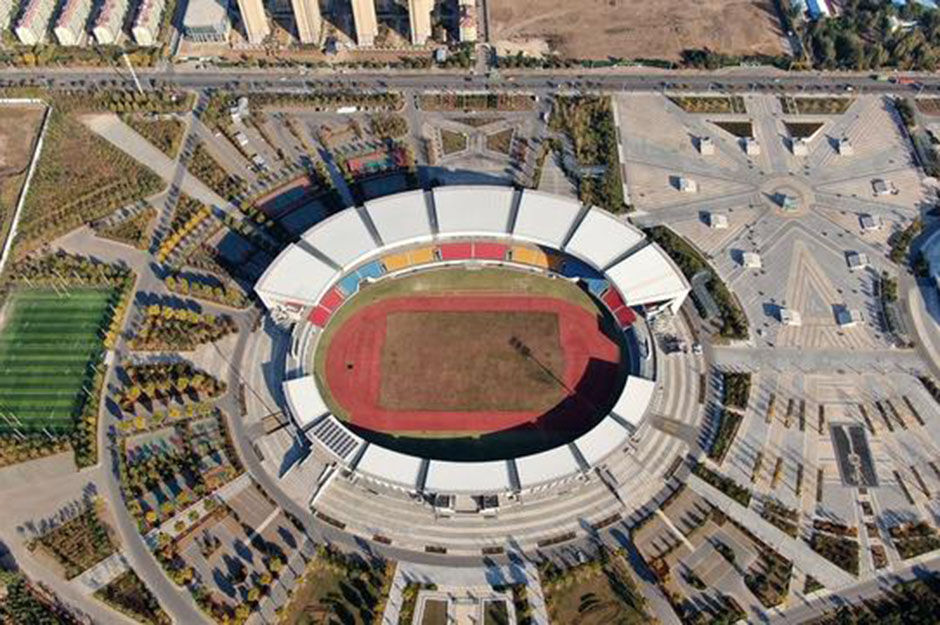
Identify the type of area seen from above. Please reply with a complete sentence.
This image shows a sports ground.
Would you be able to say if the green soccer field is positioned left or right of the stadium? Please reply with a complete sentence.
The stadium has the green soccer field on its left side.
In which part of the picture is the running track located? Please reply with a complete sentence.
The running track sits in the center section of the image.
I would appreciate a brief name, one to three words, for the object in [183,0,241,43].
building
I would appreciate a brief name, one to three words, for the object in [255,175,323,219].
sports court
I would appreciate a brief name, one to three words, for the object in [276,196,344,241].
sports court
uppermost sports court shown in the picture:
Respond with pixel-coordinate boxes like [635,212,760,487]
[347,143,412,175]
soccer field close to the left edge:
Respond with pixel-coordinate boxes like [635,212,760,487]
[0,289,120,436]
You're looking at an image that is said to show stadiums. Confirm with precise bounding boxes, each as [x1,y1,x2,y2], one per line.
[238,185,716,557]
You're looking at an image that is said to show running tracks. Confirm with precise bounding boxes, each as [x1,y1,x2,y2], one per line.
[314,262,631,462]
